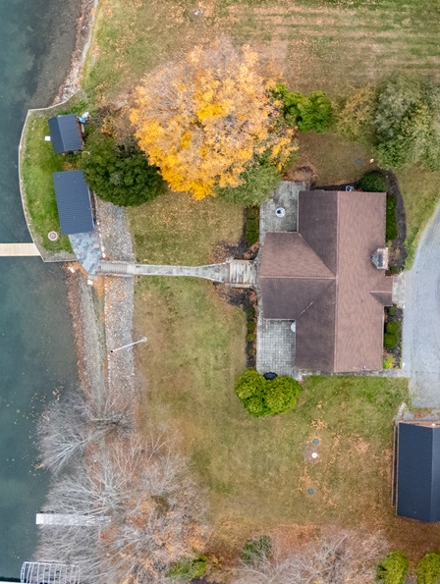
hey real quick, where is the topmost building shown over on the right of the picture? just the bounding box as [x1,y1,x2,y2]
[260,190,399,372]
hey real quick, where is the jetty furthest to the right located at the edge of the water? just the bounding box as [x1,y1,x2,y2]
[33,511,113,528]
